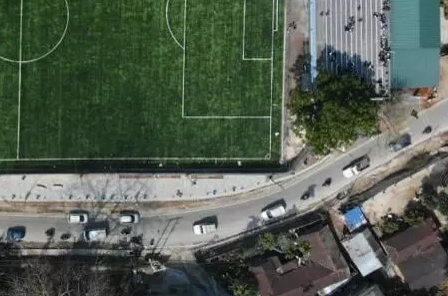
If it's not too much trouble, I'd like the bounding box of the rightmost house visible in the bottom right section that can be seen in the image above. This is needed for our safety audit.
[378,217,448,289]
